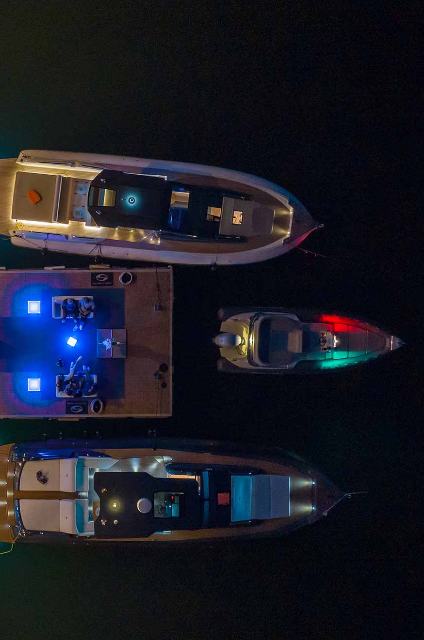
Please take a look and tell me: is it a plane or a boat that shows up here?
boat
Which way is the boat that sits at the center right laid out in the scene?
from side to side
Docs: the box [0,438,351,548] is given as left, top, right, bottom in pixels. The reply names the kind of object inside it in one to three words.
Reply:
boat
